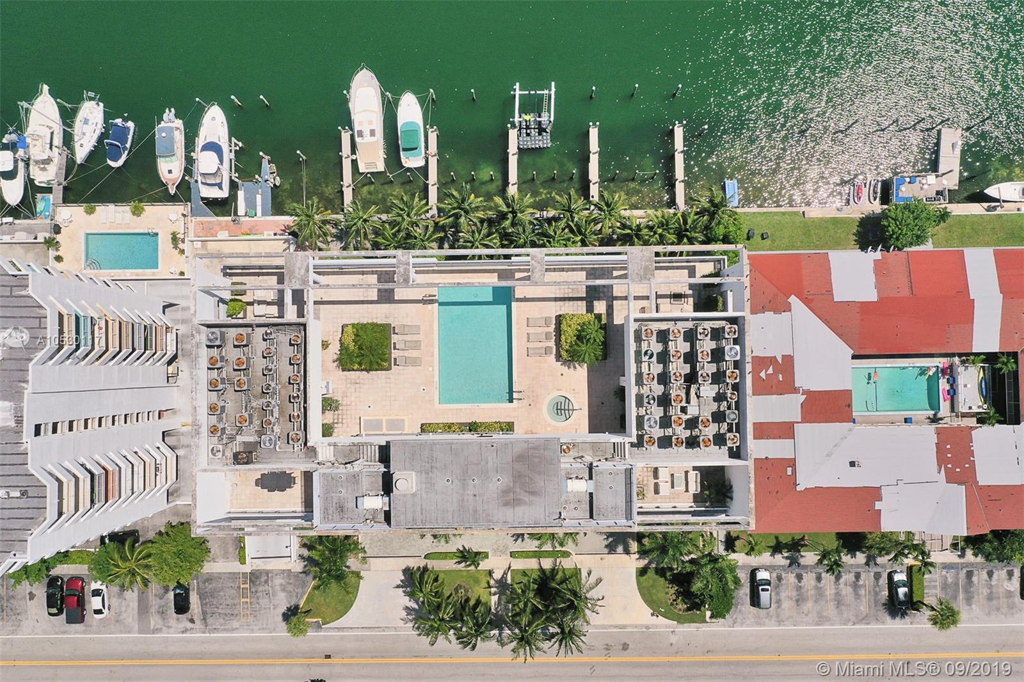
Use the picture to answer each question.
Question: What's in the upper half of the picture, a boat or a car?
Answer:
boat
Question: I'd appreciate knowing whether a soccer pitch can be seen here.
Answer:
No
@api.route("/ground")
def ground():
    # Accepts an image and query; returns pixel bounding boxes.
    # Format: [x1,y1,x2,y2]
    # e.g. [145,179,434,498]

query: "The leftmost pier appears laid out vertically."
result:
[53,150,68,205]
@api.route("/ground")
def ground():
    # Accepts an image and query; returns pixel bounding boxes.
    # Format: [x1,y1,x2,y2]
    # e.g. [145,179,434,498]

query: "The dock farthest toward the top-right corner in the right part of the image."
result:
[937,128,961,190]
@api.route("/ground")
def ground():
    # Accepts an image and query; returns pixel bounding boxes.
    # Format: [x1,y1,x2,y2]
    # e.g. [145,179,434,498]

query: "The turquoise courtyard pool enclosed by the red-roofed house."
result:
[852,361,942,415]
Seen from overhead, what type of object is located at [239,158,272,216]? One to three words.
pier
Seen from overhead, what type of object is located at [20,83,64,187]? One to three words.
boat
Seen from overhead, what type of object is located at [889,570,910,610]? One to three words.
car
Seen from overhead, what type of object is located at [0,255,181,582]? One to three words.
building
